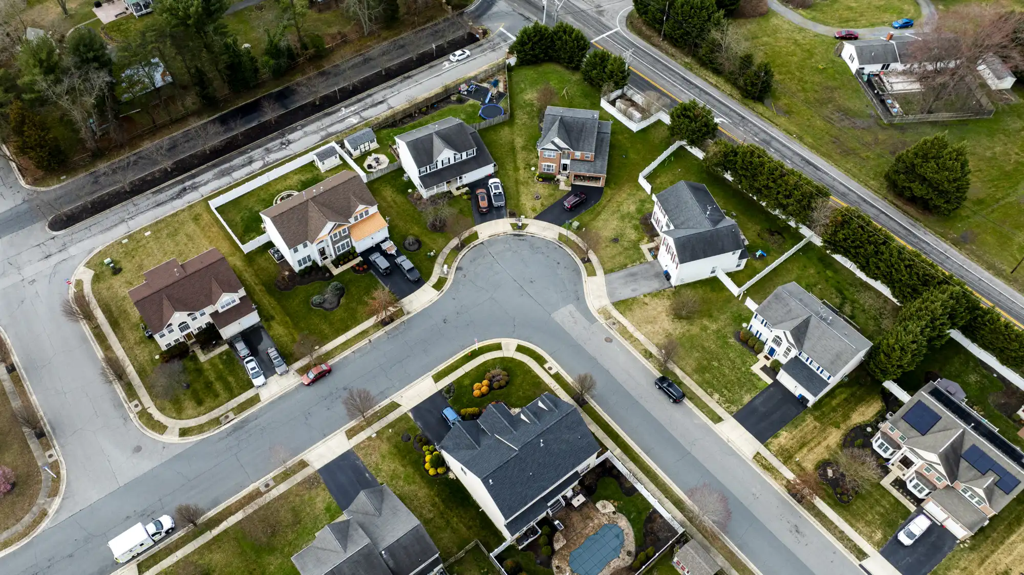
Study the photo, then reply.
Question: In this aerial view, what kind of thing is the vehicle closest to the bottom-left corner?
truck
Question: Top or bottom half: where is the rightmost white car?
bottom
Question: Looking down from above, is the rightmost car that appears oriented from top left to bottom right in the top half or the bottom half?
bottom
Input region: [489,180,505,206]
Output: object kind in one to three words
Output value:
vehicle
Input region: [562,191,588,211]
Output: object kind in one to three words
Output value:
car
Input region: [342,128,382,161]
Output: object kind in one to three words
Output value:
shed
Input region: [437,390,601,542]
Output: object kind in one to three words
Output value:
house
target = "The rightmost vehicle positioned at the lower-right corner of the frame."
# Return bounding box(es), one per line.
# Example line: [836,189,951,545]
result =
[899,514,936,550]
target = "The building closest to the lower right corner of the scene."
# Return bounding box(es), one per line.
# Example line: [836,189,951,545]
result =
[873,376,1024,541]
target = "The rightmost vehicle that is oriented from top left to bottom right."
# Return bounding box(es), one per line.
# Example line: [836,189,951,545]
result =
[653,376,687,406]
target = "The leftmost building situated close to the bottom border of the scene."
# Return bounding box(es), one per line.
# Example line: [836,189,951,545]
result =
[291,484,444,575]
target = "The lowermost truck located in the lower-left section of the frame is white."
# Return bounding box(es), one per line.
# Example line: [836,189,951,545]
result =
[100,523,173,574]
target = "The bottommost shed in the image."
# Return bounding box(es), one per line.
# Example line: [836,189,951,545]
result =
[671,541,728,575]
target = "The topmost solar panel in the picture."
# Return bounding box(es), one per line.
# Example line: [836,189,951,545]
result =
[900,396,945,437]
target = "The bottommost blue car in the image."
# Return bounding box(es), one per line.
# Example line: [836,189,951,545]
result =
[437,404,464,432]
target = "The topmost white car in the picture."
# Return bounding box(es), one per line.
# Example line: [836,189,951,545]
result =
[449,49,471,62]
